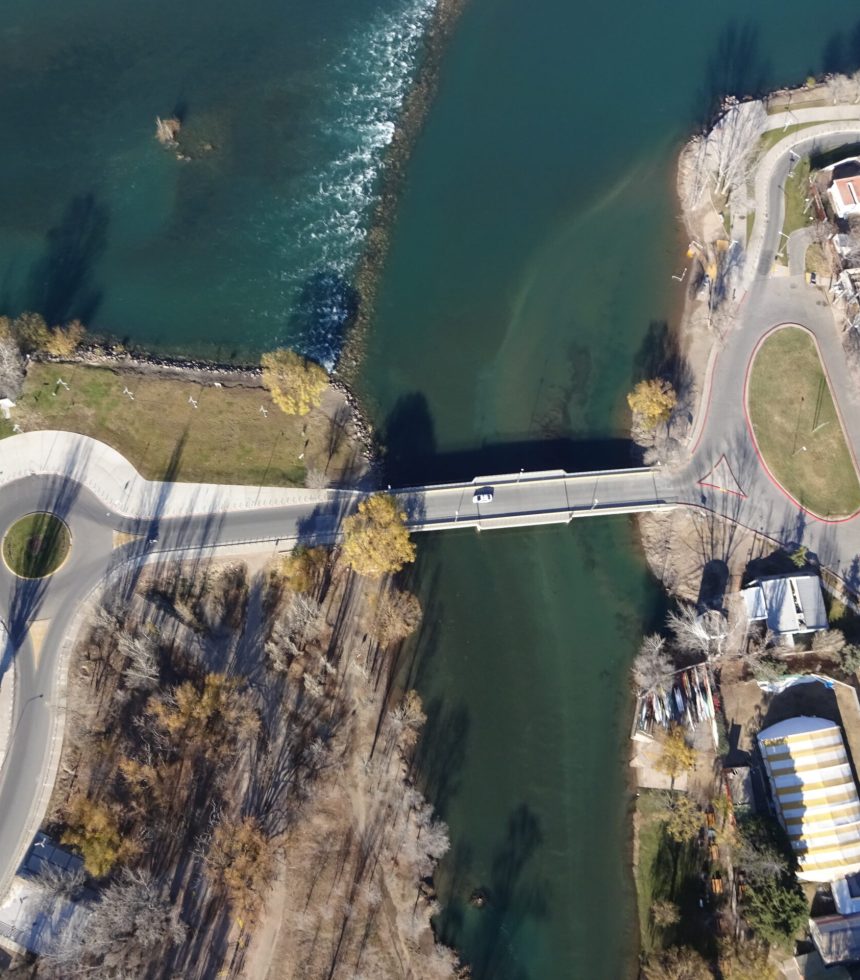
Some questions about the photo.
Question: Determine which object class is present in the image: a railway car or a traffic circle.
traffic circle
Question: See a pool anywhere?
No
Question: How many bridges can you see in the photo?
1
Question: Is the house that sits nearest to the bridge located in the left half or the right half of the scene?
right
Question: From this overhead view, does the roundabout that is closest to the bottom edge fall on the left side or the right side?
left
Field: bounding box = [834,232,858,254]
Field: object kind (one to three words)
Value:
shed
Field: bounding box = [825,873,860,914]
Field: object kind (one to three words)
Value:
house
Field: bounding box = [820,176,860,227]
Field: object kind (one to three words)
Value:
house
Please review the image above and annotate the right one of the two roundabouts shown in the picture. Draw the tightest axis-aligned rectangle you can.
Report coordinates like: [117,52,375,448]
[747,323,860,522]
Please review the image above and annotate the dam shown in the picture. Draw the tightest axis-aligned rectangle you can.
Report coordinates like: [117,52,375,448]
[340,0,463,370]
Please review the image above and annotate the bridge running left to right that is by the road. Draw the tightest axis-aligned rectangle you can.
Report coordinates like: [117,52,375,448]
[380,466,666,530]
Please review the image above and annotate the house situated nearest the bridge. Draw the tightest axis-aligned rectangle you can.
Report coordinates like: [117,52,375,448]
[738,576,829,635]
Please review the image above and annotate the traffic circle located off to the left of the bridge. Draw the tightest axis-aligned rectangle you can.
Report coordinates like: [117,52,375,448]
[0,477,107,615]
